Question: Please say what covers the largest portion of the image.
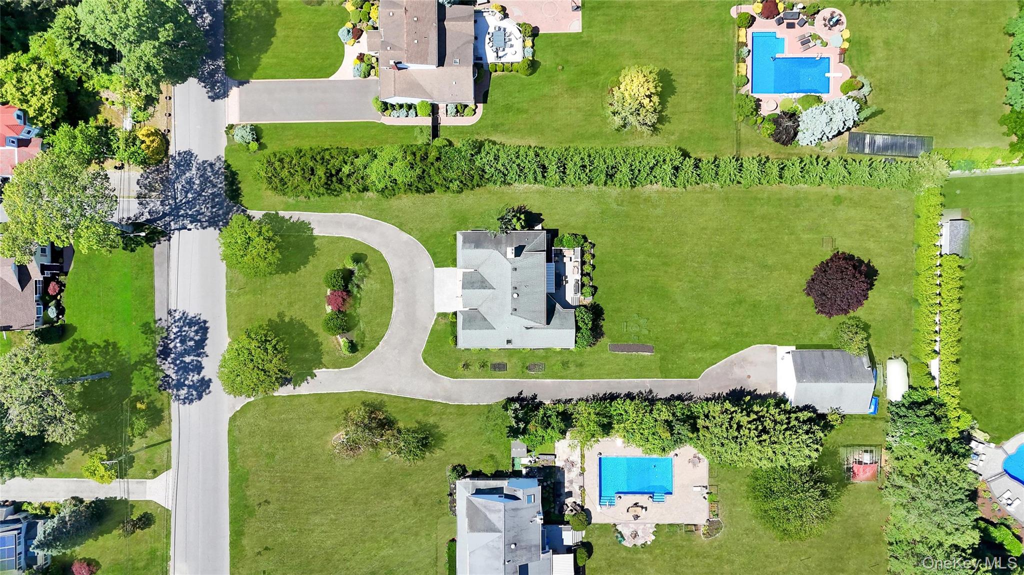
grass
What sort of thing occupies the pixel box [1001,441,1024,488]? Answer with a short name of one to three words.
swimming pool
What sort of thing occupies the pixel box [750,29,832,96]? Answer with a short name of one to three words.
swimming pool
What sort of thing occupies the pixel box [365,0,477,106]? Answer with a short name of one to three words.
house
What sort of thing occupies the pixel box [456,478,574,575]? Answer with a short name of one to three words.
house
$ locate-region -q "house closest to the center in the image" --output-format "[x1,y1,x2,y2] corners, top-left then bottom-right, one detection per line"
[457,231,576,348]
